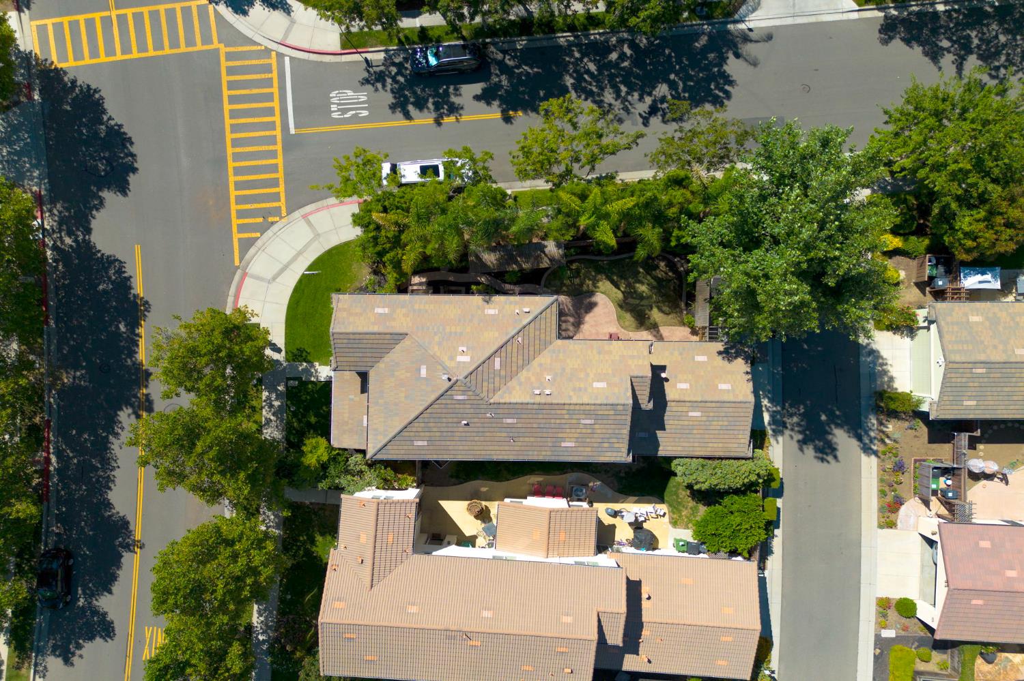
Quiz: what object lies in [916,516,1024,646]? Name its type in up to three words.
house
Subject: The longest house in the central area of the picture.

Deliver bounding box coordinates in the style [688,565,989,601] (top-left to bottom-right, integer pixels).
[327,290,758,464]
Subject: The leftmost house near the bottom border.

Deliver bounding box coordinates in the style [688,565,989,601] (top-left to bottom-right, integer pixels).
[319,486,764,681]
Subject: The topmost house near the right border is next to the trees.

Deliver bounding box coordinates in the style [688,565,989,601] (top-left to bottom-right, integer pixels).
[911,300,1024,424]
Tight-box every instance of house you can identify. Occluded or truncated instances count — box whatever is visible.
[911,300,1024,424]
[916,516,1024,646]
[319,486,764,681]
[327,290,758,464]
